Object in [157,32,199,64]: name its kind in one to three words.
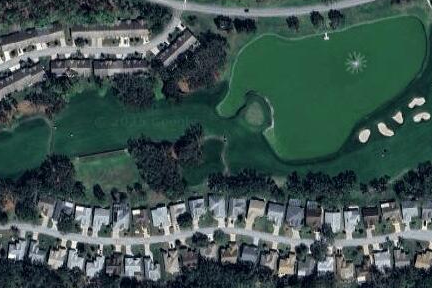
house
